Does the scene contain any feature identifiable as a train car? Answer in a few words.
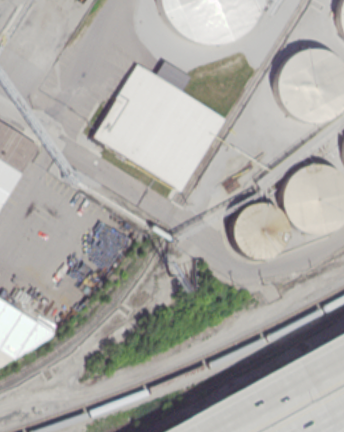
Yes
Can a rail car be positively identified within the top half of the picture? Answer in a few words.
No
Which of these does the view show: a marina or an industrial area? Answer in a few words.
industrial area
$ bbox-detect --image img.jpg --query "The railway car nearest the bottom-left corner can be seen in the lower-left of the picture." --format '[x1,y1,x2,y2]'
[25,412,88,432]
